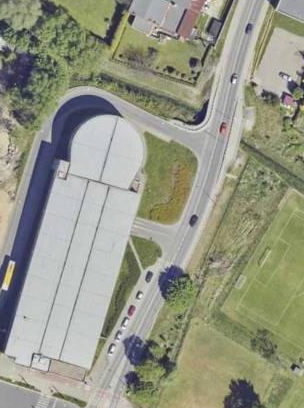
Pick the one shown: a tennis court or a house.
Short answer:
house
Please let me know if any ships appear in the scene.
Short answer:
No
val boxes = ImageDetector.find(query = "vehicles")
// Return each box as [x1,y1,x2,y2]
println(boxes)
[2,261,16,290]
[127,306,136,316]
[114,330,122,341]
[189,214,197,226]
[145,271,153,282]
[221,122,228,133]
[245,22,252,33]
[135,290,143,301]
[107,343,116,354]
[120,317,128,328]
